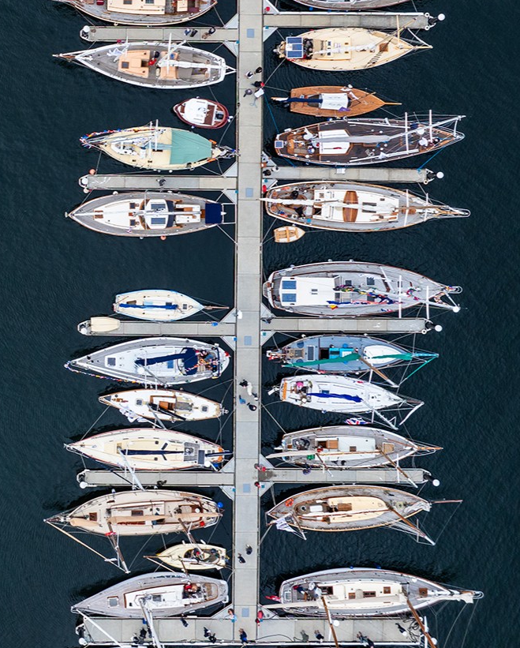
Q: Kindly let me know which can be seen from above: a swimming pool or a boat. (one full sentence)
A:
The one in the frame is a boat.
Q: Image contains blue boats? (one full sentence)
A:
Yes, the photo shows a blue boat.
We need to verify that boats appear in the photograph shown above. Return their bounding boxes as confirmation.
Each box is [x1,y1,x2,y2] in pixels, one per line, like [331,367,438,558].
[64,429,233,493]
[71,575,228,648]
[43,492,223,576]
[269,376,424,431]
[113,289,230,321]
[267,486,464,547]
[267,334,440,388]
[80,118,239,171]
[51,34,236,88]
[263,262,463,320]
[90,316,119,332]
[254,183,470,233]
[271,87,403,117]
[65,192,235,236]
[99,389,227,431]
[143,543,230,574]
[51,0,217,25]
[272,226,306,242]
[260,568,484,648]
[263,426,445,489]
[172,98,234,127]
[275,110,467,164]
[362,344,402,363]
[275,16,434,70]
[65,338,230,389]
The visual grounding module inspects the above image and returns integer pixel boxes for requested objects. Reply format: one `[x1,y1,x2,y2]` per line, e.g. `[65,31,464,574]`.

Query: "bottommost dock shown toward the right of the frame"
[258,604,424,648]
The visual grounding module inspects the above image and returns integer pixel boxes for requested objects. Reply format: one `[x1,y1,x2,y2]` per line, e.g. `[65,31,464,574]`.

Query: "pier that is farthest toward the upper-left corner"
[79,15,237,55]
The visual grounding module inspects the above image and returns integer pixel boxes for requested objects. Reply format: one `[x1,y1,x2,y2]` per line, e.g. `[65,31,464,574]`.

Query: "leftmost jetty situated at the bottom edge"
[78,602,233,647]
